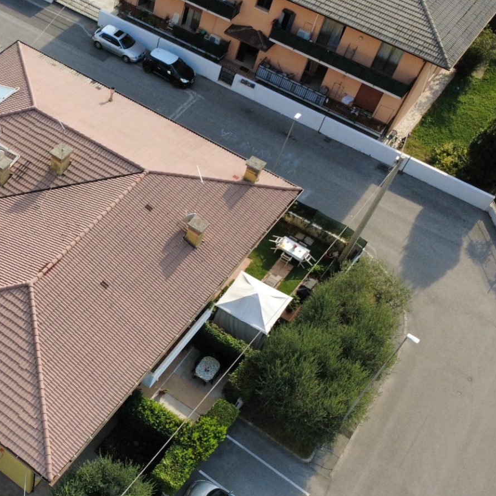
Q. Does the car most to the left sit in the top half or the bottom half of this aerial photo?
top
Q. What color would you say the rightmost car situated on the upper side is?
black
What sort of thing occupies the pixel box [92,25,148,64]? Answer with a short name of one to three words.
car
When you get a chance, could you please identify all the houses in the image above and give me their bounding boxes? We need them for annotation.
[116,0,496,142]
[0,41,305,495]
